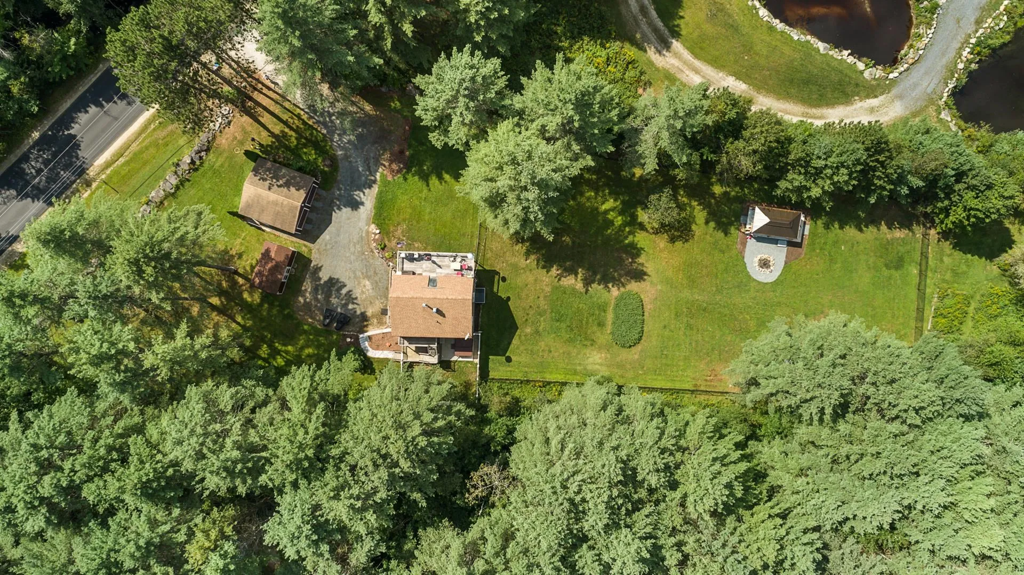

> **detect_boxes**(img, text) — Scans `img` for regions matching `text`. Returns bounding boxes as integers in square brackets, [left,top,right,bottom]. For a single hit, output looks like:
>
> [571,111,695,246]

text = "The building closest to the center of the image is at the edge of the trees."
[388,251,485,367]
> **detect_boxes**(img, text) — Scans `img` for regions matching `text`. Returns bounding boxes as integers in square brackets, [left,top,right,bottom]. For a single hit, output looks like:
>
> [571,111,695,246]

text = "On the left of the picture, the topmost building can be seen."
[239,158,319,233]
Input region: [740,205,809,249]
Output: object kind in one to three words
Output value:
gazebo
